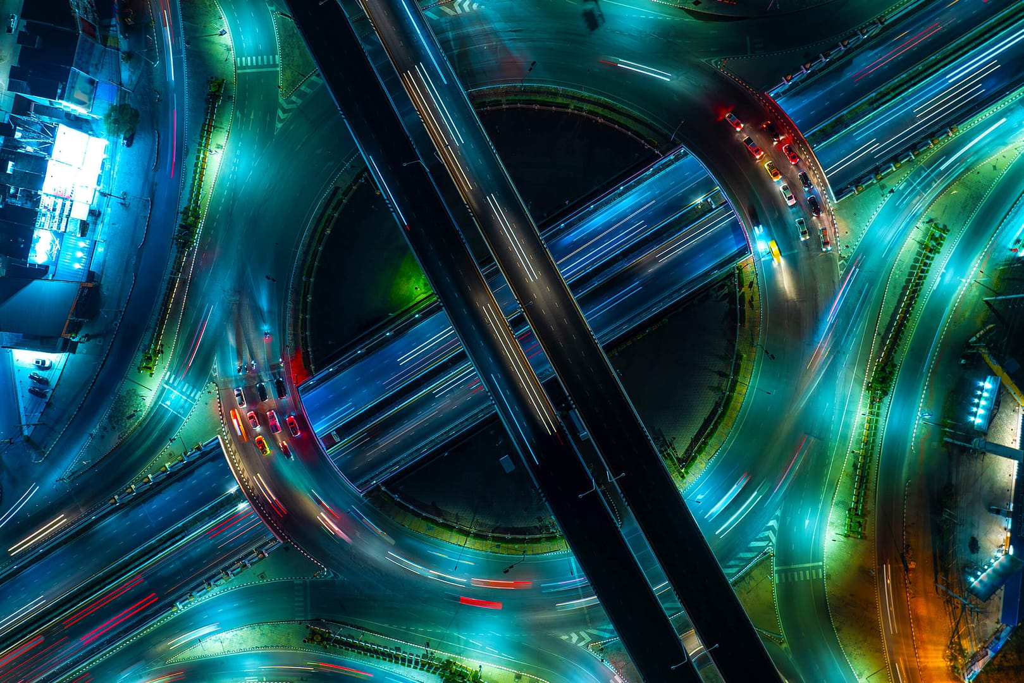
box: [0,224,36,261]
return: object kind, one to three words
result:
building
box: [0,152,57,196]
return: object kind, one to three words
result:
building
